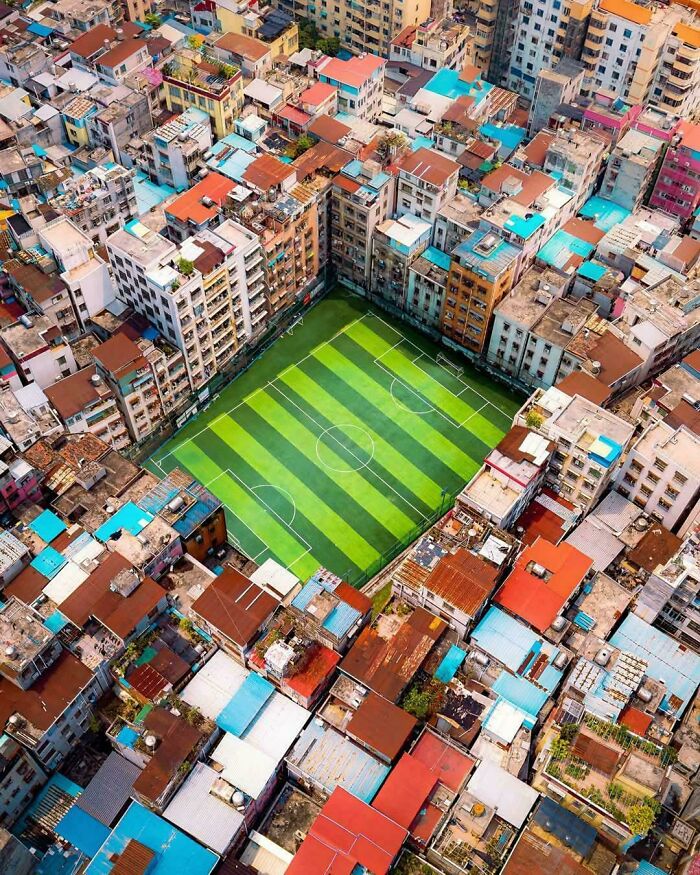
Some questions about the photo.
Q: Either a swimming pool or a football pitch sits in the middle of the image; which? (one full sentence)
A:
Visible in the middle of the image is a football pitch.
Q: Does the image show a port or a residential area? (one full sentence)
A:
The picture captures a residential area.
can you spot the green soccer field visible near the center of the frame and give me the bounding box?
[123,285,520,592]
